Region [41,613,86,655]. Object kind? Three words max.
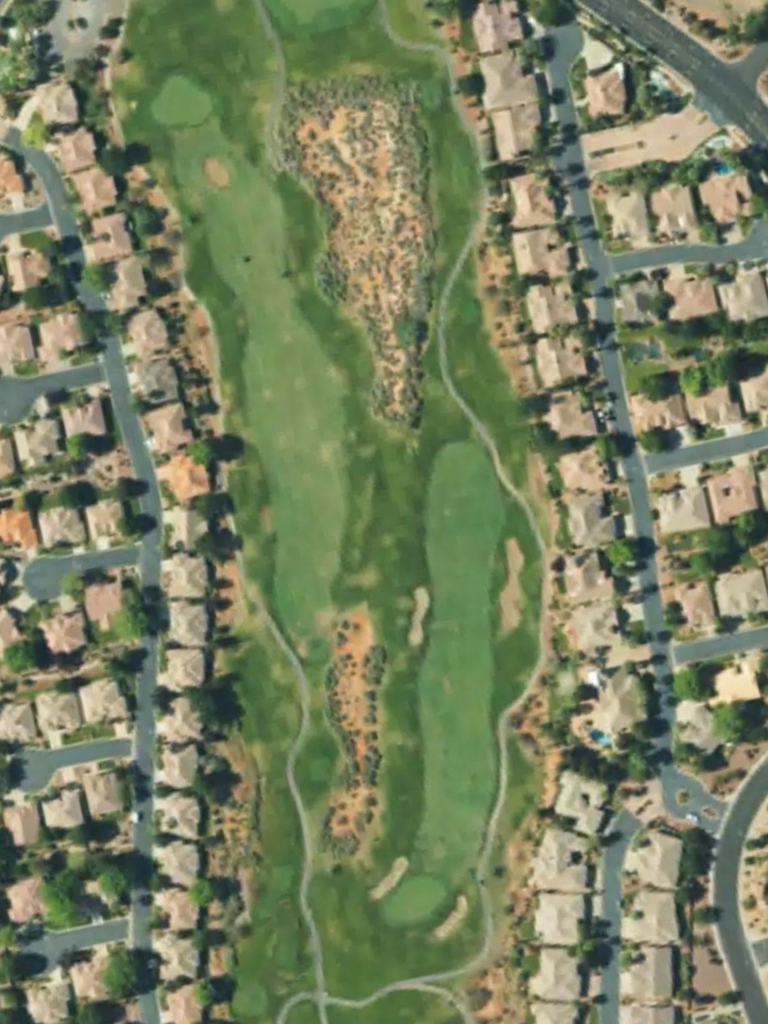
house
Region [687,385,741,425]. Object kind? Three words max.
house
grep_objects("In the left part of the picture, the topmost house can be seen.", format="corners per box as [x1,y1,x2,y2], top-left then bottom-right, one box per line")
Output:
[36,80,79,124]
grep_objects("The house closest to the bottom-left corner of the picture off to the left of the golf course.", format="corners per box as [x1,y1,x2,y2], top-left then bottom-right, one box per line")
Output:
[27,983,71,1024]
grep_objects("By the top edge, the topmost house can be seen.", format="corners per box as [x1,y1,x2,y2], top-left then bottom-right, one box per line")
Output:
[473,0,521,53]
